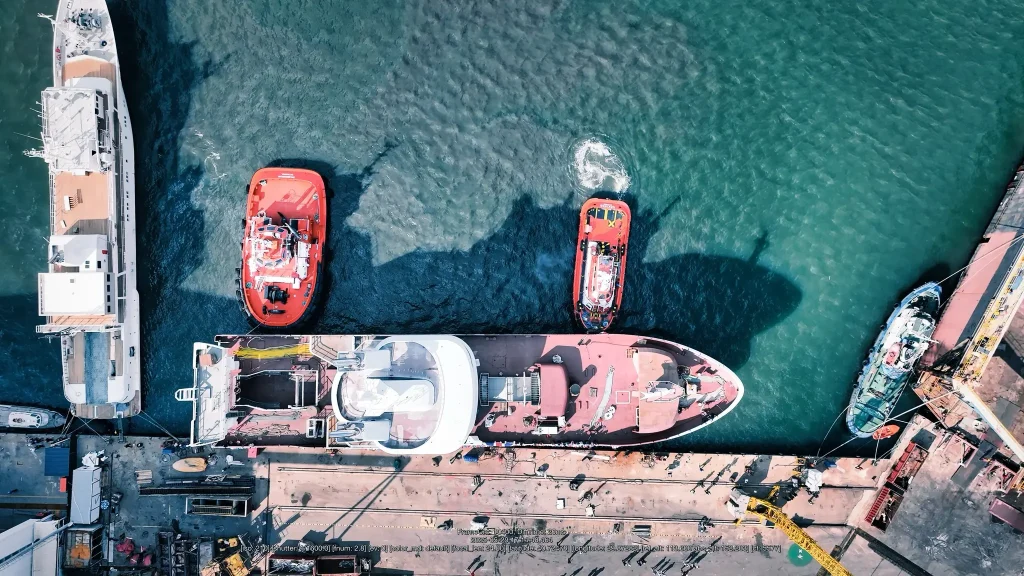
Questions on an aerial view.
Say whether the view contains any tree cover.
No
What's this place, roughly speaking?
port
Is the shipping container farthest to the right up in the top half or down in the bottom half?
bottom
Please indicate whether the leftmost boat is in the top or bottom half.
bottom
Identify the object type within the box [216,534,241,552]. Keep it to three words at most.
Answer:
work vehicle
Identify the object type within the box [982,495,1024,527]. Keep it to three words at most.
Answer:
shipping container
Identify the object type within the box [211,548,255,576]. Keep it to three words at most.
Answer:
work vehicle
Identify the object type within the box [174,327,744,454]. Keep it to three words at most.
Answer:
ship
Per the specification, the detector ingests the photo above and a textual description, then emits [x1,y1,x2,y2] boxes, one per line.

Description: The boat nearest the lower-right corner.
[873,425,900,439]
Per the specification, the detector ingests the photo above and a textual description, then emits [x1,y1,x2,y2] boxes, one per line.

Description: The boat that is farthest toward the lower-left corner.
[0,404,72,428]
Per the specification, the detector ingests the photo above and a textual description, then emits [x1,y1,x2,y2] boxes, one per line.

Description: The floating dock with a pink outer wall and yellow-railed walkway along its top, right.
[905,167,1024,430]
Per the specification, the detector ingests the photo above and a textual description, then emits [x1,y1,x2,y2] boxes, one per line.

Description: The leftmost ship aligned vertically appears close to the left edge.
[20,0,148,438]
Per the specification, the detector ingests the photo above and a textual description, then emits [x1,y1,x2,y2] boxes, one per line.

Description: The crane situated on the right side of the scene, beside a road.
[724,482,866,576]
